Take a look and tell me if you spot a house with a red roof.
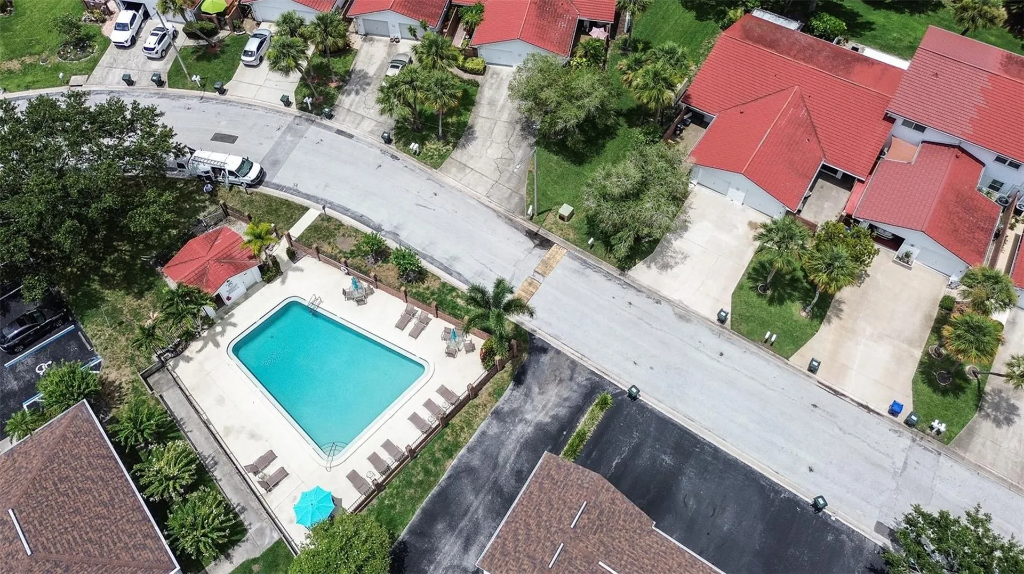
Yes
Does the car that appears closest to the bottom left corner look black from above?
Yes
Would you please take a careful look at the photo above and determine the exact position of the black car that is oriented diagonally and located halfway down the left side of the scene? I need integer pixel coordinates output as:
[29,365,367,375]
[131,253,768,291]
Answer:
[0,302,68,356]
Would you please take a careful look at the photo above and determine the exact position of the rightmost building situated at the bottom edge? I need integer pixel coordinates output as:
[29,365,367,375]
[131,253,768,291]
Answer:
[477,451,729,574]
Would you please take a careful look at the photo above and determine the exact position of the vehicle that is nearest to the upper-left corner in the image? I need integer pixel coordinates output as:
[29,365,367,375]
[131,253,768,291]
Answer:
[110,3,152,48]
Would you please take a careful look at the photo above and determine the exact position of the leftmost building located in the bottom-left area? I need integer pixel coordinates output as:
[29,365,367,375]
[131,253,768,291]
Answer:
[0,399,182,574]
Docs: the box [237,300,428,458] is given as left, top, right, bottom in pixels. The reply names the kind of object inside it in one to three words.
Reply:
swimming pool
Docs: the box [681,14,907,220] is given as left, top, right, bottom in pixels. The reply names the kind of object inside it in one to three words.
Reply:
house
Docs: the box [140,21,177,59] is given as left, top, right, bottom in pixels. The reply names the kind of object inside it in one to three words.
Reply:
car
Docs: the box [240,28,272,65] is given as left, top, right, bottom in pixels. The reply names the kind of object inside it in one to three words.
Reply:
car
